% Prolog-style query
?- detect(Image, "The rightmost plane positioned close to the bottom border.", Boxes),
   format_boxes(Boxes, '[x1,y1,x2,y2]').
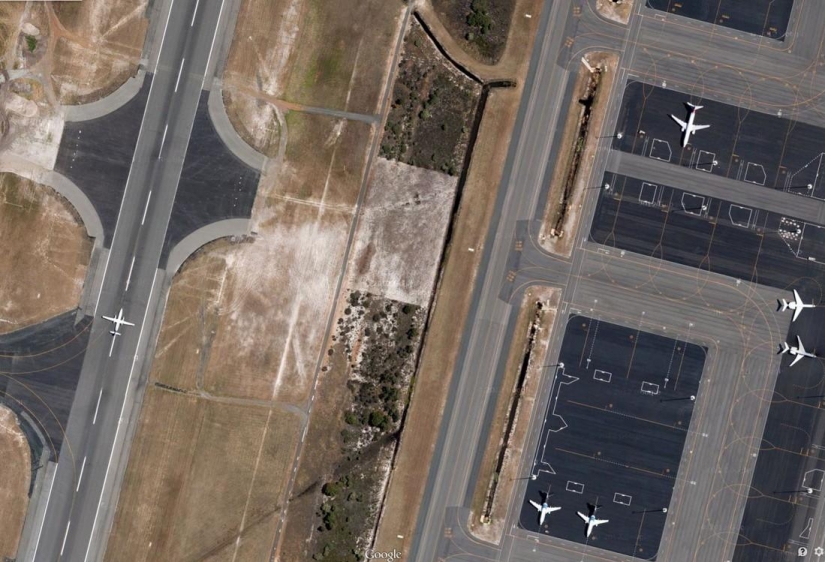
[578,497,609,537]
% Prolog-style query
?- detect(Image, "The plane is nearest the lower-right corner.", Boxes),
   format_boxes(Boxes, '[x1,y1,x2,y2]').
[783,335,817,366]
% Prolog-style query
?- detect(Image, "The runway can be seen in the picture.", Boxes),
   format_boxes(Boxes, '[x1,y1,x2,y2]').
[33,0,225,562]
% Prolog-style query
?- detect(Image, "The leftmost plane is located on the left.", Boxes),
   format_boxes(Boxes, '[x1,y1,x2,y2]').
[102,308,135,336]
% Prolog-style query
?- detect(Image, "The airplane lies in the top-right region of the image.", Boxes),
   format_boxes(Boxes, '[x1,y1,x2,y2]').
[672,102,711,147]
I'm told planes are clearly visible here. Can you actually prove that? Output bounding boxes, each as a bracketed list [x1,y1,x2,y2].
[672,102,711,147]
[578,497,609,537]
[532,485,562,525]
[102,308,135,336]
[783,290,816,321]
[783,335,817,366]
